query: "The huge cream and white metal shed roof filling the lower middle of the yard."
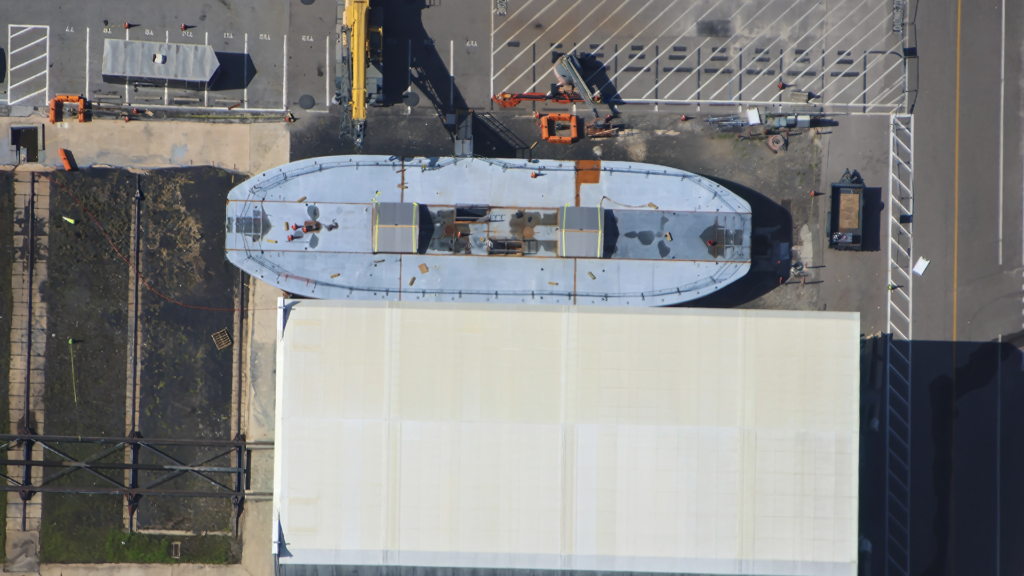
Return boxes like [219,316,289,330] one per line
[272,297,860,576]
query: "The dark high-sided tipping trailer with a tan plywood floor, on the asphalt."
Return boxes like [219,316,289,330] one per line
[827,169,866,251]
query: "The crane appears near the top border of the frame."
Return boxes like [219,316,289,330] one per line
[330,0,386,152]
